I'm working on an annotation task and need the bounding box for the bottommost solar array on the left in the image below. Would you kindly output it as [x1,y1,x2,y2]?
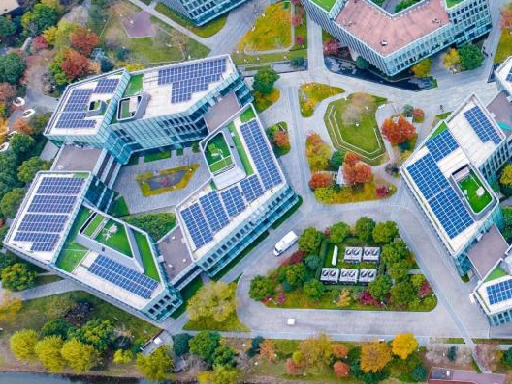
[89,254,161,299]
